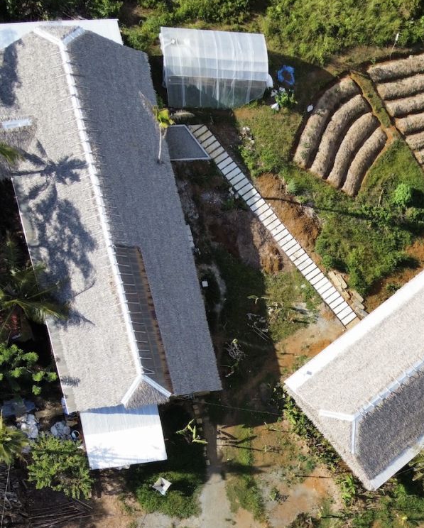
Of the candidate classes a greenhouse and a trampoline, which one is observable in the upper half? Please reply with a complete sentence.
The one visible in the upper half is a greenhouse.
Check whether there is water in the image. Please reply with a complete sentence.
No, the scene doesn't show any water.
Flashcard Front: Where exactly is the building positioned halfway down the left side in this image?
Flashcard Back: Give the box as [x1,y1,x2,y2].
[0,19,225,470]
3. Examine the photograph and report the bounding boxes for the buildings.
[284,273,424,489]
[157,29,271,106]
[0,19,225,470]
